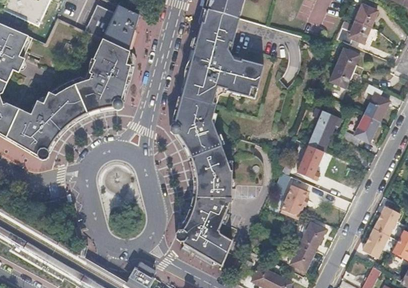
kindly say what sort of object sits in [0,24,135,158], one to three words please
building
